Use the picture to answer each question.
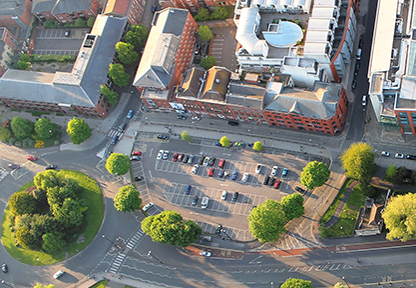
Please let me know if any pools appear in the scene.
No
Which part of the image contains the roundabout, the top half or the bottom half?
bottom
